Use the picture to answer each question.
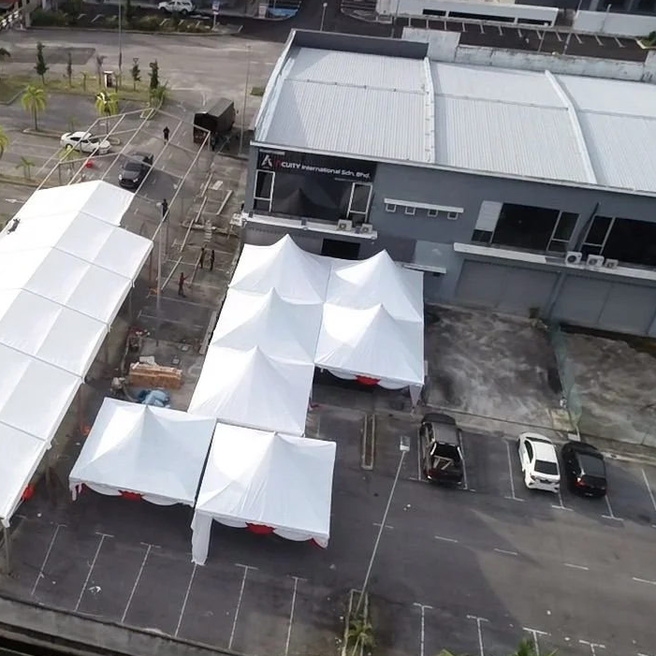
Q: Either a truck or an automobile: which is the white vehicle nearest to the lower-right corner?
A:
automobile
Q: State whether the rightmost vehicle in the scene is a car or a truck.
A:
car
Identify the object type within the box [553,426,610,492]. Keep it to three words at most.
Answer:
car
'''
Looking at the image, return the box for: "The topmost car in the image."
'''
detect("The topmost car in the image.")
[161,0,200,15]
